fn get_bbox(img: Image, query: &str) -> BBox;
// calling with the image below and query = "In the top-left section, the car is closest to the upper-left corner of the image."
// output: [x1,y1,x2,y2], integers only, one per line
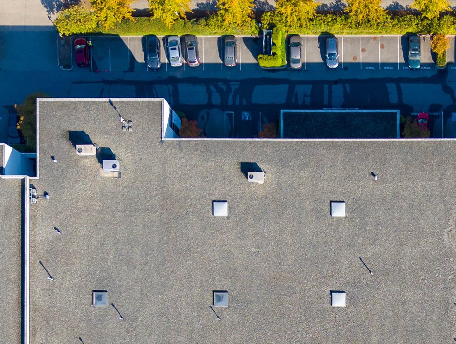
[74,38,91,70]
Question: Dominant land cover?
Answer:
buildings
